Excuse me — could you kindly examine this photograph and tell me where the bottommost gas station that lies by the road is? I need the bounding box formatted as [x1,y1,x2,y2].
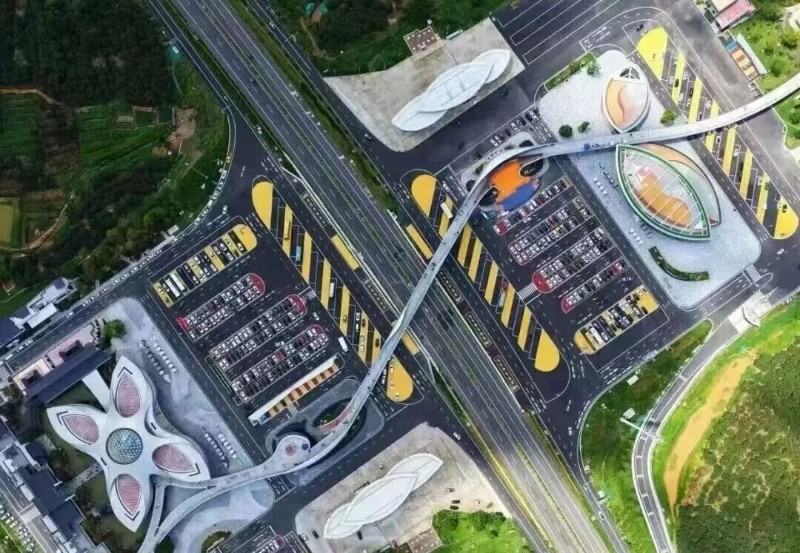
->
[292,423,511,553]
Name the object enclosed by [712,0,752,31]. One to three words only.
building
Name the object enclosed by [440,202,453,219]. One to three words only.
vehicle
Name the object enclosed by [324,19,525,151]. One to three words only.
gas station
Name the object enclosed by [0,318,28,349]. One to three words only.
house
